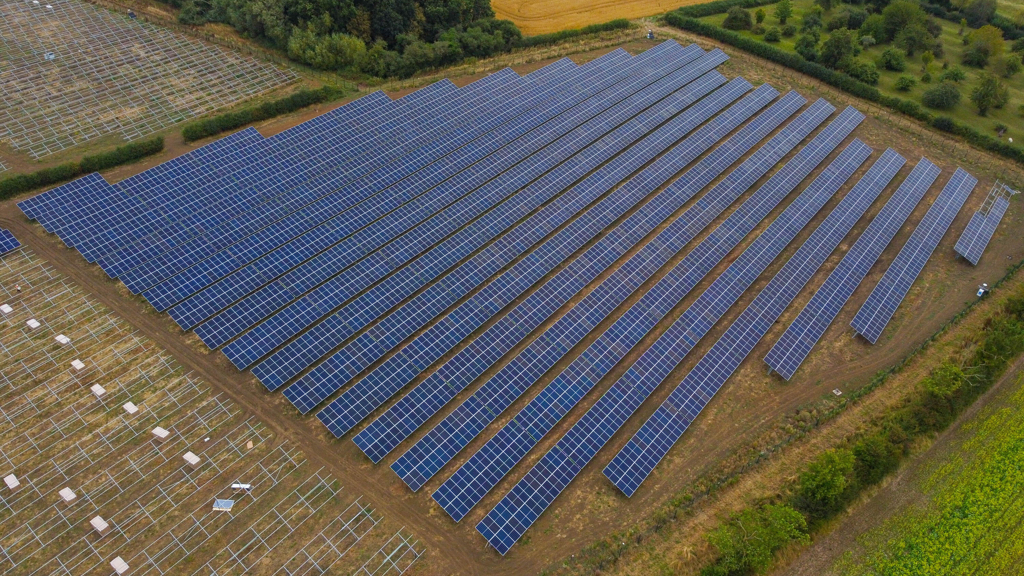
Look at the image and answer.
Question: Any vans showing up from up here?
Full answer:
No, I can't see a single van in this photo.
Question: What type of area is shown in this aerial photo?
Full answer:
It's a solar farm.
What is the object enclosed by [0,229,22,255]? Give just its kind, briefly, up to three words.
solar array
